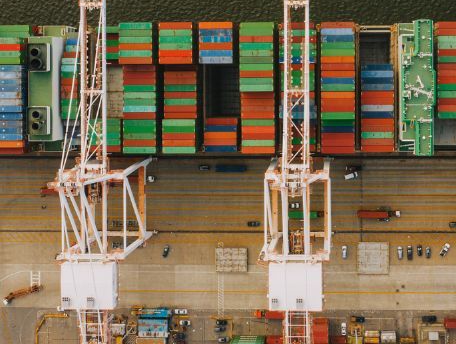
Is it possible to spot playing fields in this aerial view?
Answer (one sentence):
No, the frame has no playing field in it.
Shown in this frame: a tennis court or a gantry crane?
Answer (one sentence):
I can see a gantry crane in this picture.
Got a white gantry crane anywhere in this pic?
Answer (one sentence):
Yes, a white gantry crane appears in the view.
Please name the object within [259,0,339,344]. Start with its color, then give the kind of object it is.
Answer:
white container crane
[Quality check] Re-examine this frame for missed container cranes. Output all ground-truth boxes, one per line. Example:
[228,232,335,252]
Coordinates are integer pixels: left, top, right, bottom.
[259,0,339,344]
[49,0,162,344]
